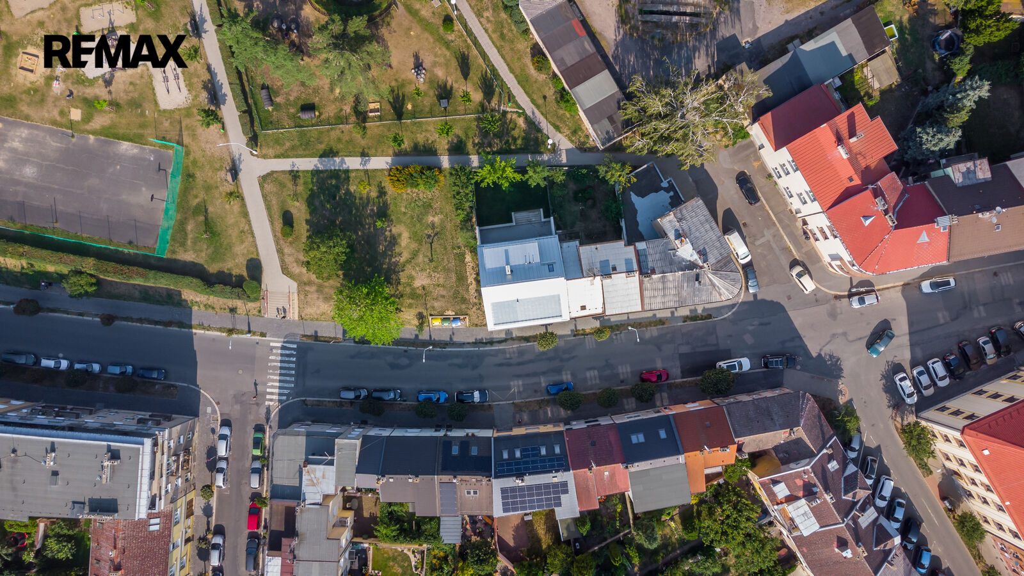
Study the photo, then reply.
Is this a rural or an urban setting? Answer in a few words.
urban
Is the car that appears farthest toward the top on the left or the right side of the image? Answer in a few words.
right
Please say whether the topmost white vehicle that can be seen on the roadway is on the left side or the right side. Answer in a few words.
right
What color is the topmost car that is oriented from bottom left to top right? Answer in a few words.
blue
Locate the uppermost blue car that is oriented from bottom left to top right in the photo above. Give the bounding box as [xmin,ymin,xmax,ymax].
[865,329,897,357]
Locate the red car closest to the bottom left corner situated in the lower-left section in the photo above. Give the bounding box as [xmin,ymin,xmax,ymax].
[247,500,261,531]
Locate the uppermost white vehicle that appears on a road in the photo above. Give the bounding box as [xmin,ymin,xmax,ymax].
[724,227,750,265]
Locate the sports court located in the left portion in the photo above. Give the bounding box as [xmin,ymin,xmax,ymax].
[0,116,173,246]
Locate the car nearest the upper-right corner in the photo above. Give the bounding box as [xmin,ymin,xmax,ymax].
[918,277,955,293]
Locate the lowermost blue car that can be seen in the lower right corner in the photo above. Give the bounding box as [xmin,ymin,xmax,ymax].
[914,544,932,574]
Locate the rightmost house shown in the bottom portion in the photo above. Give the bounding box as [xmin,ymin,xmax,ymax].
[917,362,1024,576]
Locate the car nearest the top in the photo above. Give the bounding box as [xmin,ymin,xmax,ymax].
[735,171,760,205]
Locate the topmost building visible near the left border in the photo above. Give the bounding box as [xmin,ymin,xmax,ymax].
[0,397,199,521]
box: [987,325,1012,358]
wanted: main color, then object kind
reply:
black car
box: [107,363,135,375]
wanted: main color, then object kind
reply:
blue vehicle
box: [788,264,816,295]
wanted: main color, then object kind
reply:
white car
